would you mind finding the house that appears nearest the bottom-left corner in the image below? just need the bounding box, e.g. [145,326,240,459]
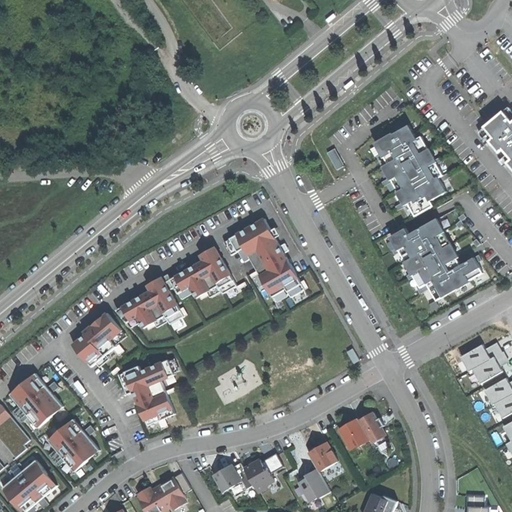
[2,461,62,512]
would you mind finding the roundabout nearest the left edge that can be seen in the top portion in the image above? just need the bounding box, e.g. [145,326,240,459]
[225,98,279,152]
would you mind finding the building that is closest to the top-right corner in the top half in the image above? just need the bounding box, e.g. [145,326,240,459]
[475,108,512,172]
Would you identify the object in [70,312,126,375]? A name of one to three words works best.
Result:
house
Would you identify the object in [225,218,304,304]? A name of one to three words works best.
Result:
house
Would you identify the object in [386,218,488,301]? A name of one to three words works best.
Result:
building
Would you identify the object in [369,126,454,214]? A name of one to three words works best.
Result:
building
